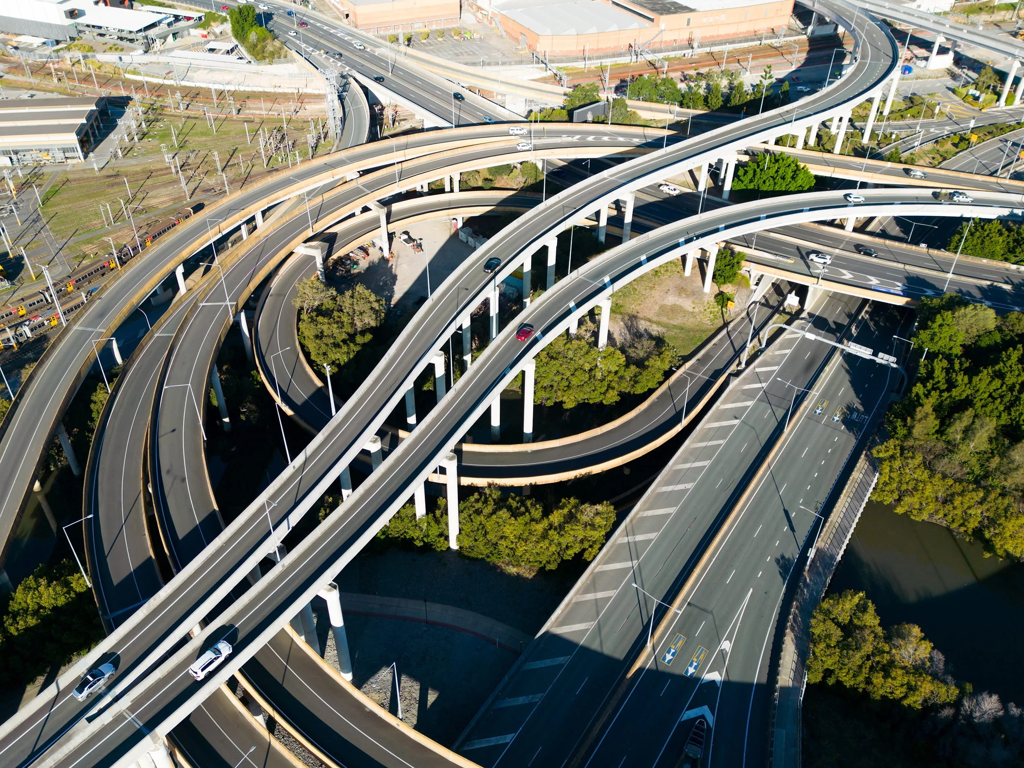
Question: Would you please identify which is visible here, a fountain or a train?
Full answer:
There is a train in the scene.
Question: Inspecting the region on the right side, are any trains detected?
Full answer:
No, I see no train on the right side.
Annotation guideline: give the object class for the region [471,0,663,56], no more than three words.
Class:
building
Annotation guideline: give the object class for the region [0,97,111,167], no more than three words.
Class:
building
